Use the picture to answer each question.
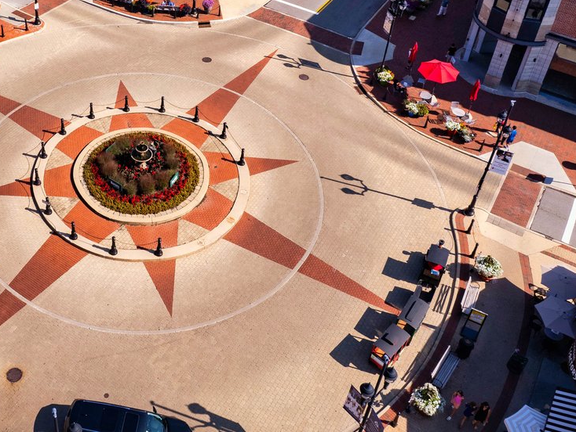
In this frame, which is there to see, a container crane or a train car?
train car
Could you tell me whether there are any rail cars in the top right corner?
No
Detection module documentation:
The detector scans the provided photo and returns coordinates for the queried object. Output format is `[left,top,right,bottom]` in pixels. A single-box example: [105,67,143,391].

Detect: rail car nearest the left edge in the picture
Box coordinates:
[366,324,410,378]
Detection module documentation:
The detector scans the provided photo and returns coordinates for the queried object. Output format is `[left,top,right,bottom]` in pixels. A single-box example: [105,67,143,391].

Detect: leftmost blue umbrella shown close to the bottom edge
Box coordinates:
[489,398,545,432]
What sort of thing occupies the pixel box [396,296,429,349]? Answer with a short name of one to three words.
rail car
